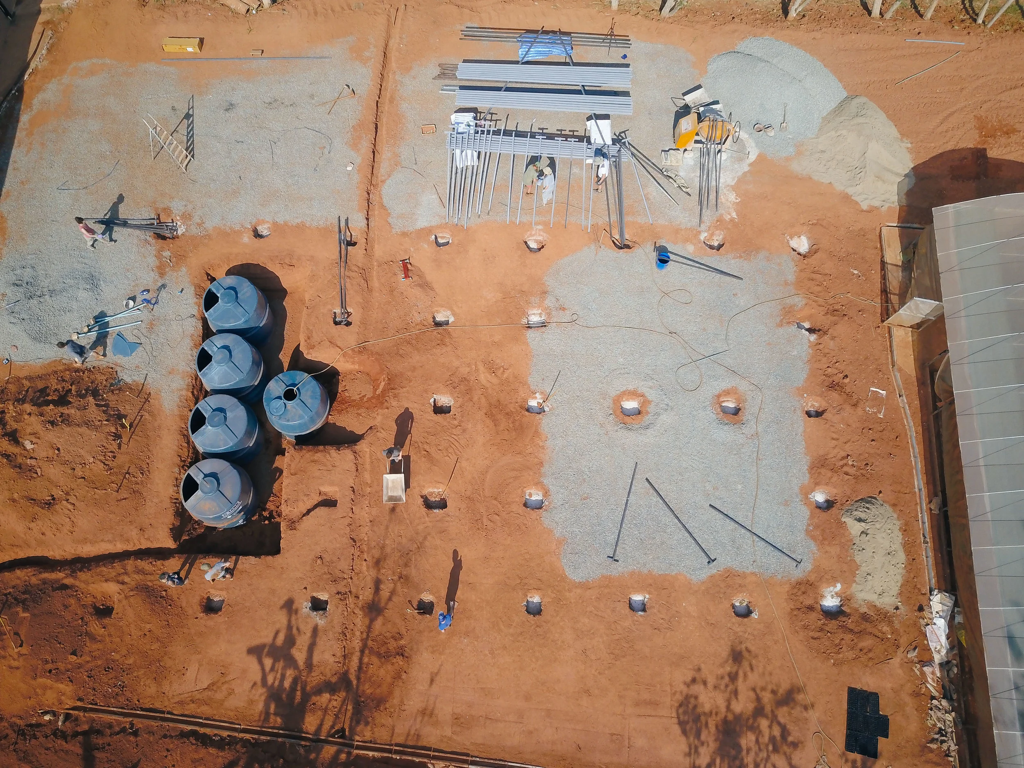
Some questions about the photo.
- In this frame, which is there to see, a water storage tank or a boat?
water storage tank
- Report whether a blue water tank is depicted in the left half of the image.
Yes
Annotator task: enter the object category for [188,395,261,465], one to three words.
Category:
water tank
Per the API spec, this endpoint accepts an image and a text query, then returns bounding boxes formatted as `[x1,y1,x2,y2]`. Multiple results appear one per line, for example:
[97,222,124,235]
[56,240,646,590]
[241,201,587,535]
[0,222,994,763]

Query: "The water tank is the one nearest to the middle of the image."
[263,373,330,443]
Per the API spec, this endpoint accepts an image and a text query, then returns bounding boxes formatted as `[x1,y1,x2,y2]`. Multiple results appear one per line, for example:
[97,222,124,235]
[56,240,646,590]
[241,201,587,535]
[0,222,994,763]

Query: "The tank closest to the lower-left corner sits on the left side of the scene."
[180,460,256,529]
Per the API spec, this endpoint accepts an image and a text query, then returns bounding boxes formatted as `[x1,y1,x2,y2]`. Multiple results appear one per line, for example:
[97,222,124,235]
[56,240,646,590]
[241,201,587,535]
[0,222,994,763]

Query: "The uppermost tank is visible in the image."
[202,276,271,345]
